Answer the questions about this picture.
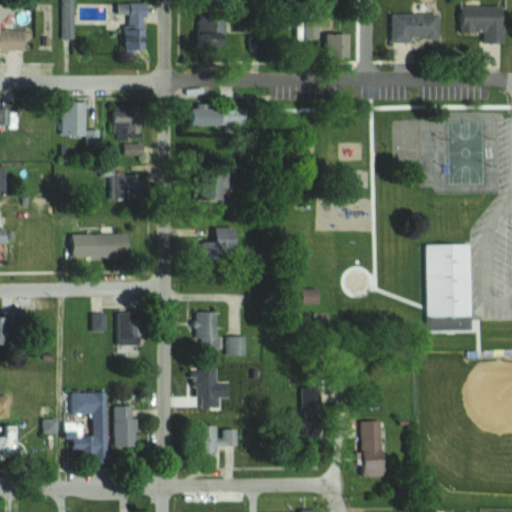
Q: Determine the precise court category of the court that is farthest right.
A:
basketball court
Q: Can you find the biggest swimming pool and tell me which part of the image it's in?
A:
top left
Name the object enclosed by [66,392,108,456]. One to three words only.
house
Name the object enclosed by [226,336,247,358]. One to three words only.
building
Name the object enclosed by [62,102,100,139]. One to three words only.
house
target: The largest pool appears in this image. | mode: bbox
[75,4,112,26]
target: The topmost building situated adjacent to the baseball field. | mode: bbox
[426,244,472,330]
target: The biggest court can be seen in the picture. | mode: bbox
[392,112,499,194]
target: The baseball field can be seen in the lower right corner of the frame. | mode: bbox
[418,352,512,496]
